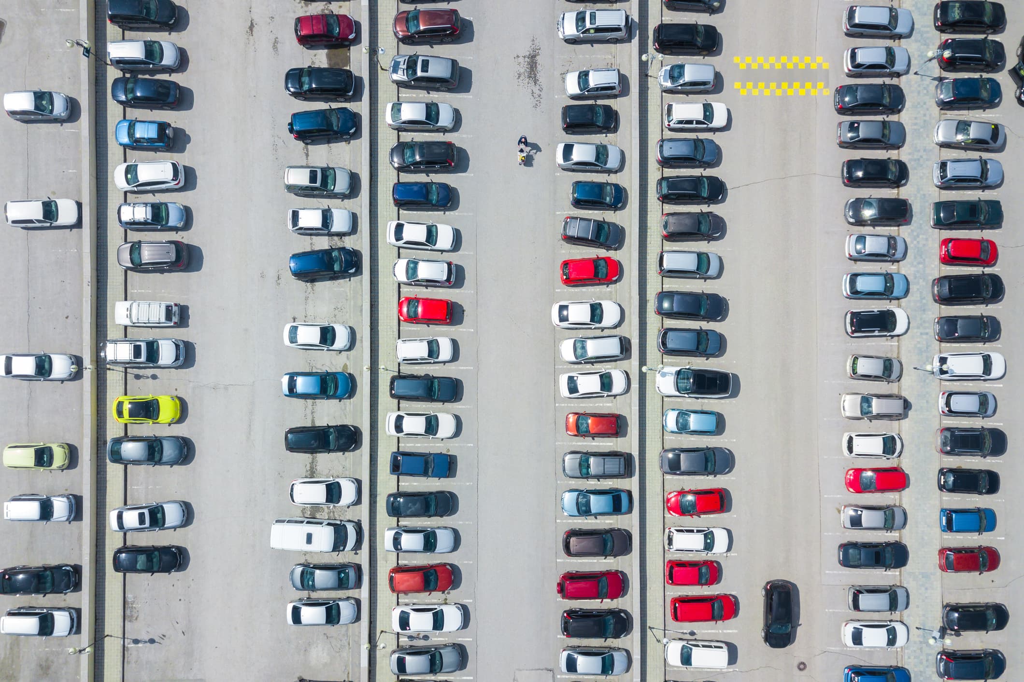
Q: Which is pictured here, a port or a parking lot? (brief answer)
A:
parking lot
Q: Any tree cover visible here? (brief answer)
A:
No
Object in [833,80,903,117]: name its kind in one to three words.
car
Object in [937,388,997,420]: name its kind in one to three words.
car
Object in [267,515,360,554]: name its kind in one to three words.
van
